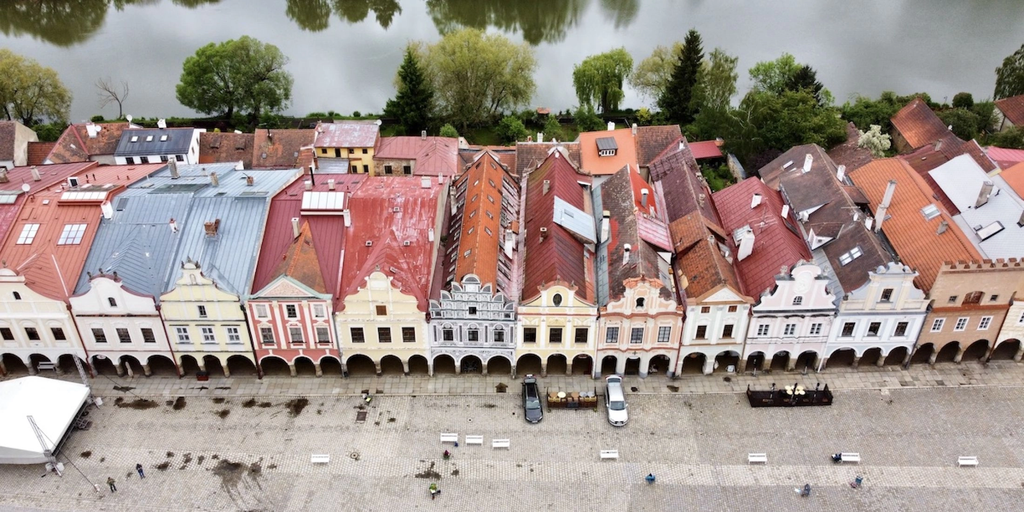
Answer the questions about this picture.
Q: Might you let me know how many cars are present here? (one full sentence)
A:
I count 2 cars.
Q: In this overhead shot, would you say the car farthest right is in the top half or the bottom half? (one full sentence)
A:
You can find the car farthest right in the bottom half.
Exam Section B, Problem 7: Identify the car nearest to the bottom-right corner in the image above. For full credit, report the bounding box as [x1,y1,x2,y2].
[603,379,628,426]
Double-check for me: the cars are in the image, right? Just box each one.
[522,376,546,423]
[603,379,628,426]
